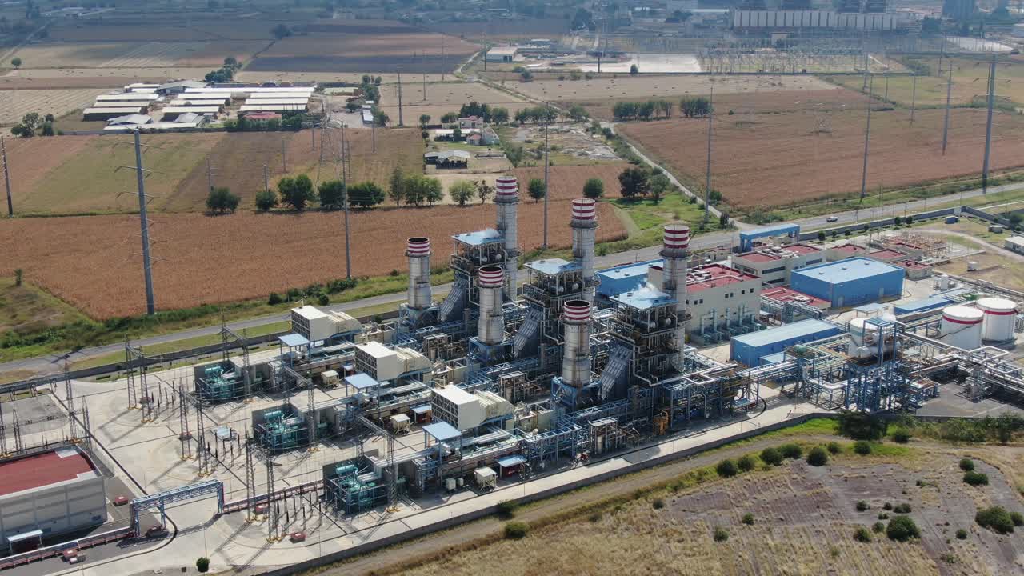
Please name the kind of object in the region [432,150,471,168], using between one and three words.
shed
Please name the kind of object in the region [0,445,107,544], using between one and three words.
building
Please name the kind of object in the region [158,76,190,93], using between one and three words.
shed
